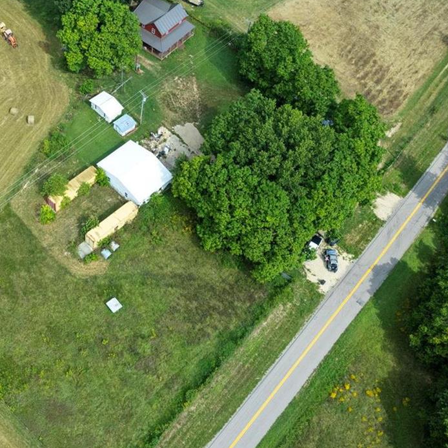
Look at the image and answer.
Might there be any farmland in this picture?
Yes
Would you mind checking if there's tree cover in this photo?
Yes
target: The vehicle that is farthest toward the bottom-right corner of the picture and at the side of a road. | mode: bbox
[323,247,343,275]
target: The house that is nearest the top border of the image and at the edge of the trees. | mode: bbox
[133,0,195,61]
